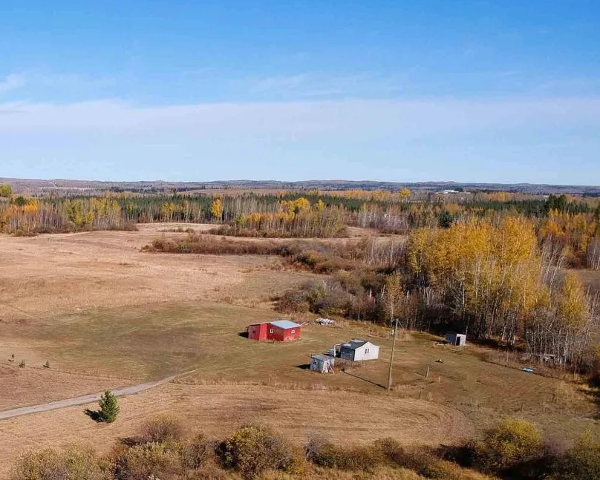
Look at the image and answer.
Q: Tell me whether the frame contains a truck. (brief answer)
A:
No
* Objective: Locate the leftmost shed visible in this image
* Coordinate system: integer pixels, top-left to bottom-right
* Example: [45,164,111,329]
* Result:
[247,318,306,341]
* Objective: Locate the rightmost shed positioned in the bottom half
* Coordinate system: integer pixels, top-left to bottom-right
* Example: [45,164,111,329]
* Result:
[443,332,469,346]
